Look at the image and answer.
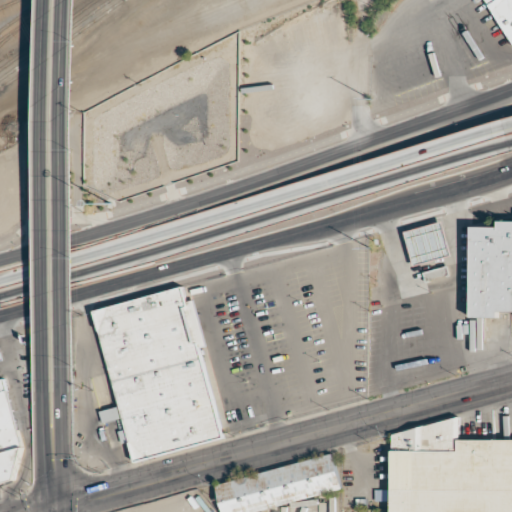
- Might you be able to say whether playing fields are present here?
No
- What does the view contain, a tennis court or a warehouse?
warehouse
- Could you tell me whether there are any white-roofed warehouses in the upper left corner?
No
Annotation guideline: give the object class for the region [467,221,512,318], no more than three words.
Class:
building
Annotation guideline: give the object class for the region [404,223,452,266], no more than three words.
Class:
shed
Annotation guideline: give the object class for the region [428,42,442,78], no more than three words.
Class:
vehicle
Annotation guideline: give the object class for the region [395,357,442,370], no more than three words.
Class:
vehicle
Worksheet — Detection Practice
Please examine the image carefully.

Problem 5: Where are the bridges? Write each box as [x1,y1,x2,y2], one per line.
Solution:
[28,0,73,468]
